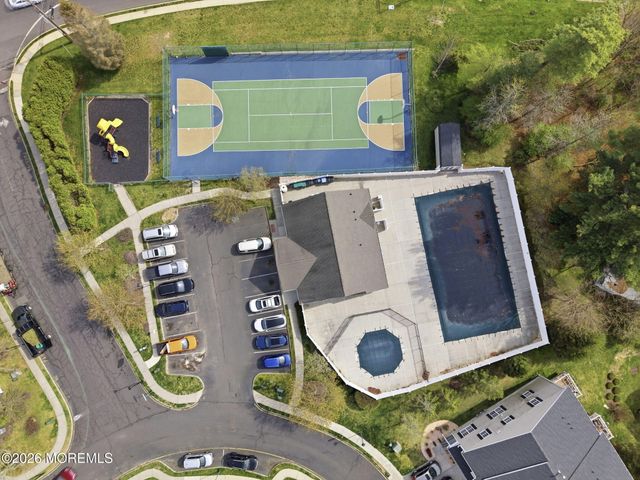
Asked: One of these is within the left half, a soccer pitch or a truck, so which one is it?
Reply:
truck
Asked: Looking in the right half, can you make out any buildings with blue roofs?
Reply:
No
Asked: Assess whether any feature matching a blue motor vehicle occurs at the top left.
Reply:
No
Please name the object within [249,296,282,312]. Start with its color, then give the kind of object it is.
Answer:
white car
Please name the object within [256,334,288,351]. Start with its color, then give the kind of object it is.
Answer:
blue car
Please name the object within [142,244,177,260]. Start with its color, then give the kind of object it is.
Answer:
white car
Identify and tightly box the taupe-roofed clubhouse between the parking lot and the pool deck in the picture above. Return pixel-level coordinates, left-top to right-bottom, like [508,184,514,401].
[274,189,389,304]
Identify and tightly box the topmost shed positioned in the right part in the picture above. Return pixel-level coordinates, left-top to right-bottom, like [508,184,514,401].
[436,124,461,170]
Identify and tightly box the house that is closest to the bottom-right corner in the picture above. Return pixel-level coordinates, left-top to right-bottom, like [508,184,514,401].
[439,366,636,480]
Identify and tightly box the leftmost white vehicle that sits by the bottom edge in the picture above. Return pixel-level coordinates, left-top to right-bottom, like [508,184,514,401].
[184,452,214,469]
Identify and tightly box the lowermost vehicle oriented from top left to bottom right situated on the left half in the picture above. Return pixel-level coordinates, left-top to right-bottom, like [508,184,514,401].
[11,306,54,359]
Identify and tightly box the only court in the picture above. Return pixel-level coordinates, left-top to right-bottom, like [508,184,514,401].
[169,50,414,178]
